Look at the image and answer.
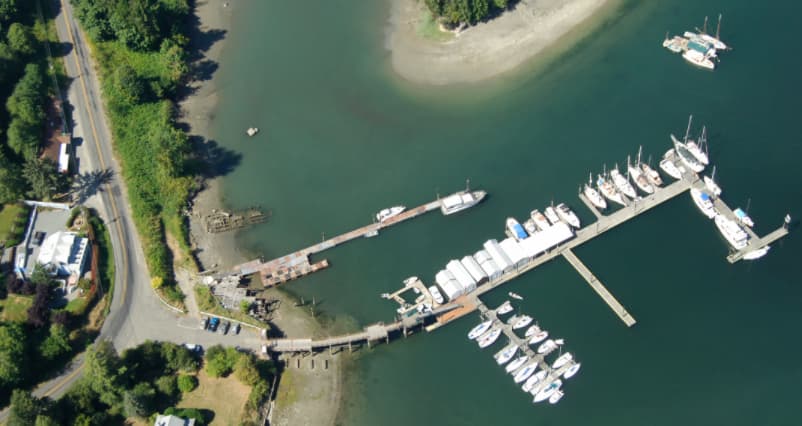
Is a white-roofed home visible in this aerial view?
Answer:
Yes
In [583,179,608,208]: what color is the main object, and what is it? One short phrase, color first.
white boat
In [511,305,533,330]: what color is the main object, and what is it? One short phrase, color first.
white boat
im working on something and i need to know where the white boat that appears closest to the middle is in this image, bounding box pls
[376,205,406,222]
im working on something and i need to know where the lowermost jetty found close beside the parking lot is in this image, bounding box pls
[267,313,421,359]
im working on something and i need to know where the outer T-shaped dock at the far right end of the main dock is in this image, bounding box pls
[672,151,790,263]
